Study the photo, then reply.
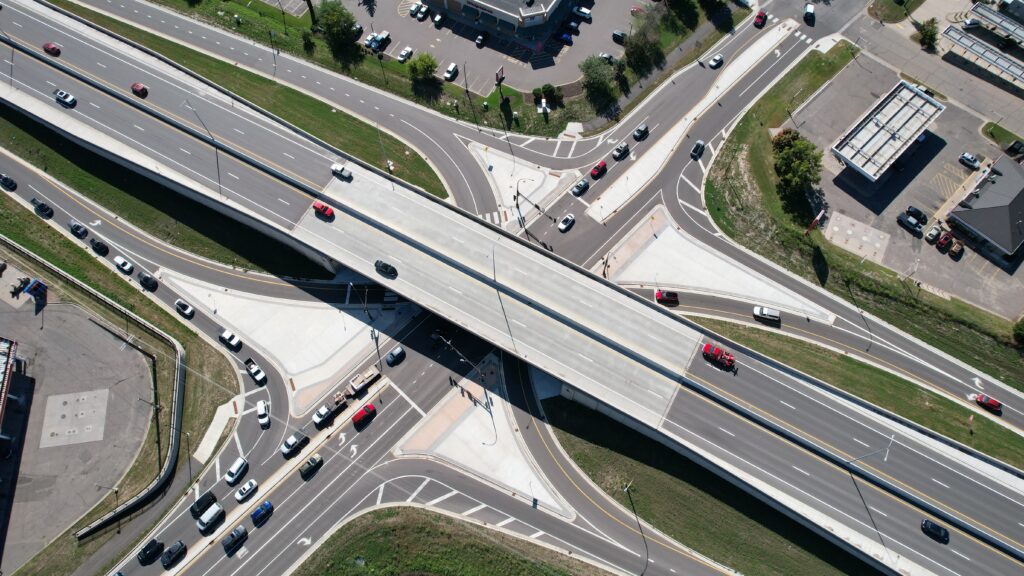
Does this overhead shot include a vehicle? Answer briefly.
Yes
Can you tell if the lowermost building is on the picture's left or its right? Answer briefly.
right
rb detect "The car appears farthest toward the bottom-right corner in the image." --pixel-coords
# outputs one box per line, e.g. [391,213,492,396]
[919,518,950,543]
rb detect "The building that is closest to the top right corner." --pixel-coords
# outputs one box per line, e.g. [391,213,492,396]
[945,155,1024,258]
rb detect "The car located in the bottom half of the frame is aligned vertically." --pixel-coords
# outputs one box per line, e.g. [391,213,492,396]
[257,401,269,426]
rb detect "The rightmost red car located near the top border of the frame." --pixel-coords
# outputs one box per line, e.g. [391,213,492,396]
[755,12,767,26]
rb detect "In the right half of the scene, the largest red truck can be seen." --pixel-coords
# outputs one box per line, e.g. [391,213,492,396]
[701,342,743,368]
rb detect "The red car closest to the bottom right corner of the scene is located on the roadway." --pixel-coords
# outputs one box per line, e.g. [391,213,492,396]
[974,394,1002,412]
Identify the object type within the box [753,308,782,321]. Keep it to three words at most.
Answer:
vehicle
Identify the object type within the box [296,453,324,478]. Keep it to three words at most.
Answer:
truck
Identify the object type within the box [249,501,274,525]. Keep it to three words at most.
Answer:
car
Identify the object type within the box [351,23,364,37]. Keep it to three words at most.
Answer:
vehicle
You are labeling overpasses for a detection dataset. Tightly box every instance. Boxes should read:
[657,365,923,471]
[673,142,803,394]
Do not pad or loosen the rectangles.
[284,156,706,433]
